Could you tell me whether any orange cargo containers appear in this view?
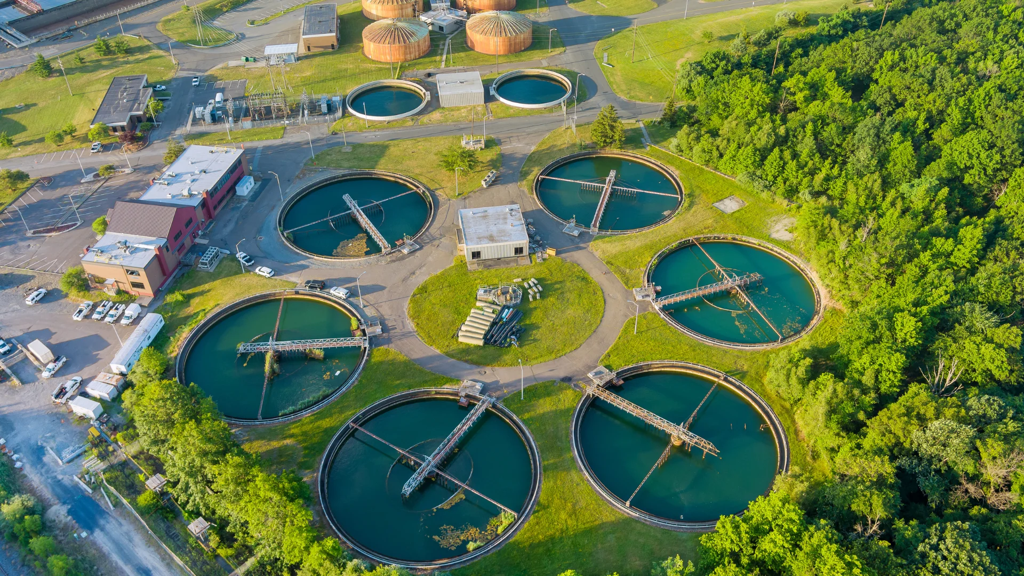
No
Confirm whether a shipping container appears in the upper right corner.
No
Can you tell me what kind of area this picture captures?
industrial area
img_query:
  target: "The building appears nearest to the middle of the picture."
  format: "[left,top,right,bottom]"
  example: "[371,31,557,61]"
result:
[456,204,529,267]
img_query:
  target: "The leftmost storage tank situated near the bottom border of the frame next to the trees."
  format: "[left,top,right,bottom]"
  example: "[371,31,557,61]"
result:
[320,377,538,567]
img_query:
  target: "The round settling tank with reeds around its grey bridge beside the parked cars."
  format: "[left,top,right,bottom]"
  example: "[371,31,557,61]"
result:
[176,287,385,424]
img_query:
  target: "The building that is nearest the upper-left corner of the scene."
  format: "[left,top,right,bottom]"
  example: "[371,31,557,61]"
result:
[91,74,155,136]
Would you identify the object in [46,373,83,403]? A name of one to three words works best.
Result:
truck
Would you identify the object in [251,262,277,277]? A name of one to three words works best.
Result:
car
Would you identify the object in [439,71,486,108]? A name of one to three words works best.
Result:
building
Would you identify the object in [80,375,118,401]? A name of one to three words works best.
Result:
shed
